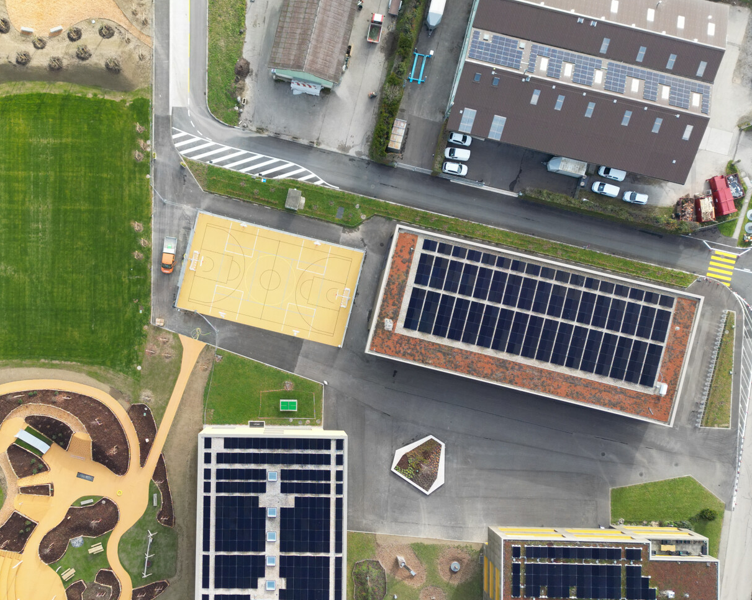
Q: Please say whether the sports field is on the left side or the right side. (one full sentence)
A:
The sports field sits on the left side.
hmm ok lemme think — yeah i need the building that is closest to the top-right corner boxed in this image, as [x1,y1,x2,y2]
[442,0,730,190]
